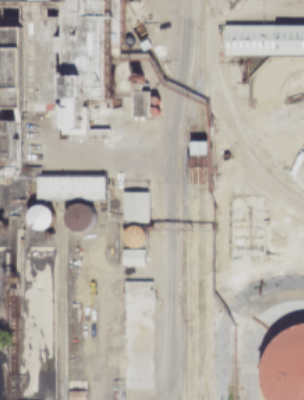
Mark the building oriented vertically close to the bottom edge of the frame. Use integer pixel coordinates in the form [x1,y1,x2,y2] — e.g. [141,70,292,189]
[126,282,157,390]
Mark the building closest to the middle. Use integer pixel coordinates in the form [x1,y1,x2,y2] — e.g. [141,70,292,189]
[123,192,152,223]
